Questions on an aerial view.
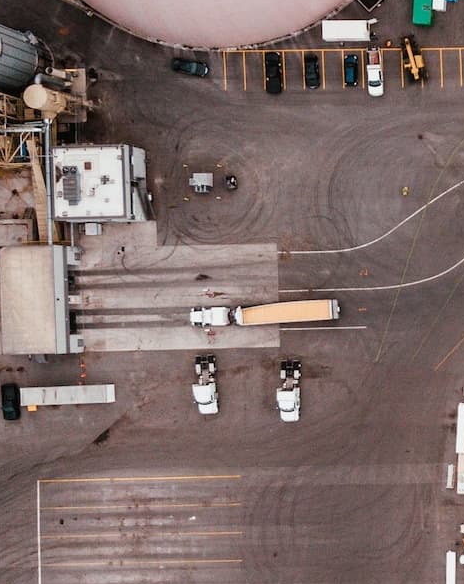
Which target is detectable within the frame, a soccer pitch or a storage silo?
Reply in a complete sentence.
This aerial view contains a storage silo.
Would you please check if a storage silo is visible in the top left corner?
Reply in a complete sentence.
Yes, a storage silo can be seen in the top left corner.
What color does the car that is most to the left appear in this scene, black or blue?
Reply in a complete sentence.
In this view, the car that is most to the left is black.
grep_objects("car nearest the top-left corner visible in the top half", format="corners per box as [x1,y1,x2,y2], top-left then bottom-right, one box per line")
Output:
[170,55,211,77]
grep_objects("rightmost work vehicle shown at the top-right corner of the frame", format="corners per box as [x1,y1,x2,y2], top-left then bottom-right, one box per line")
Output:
[401,35,427,78]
